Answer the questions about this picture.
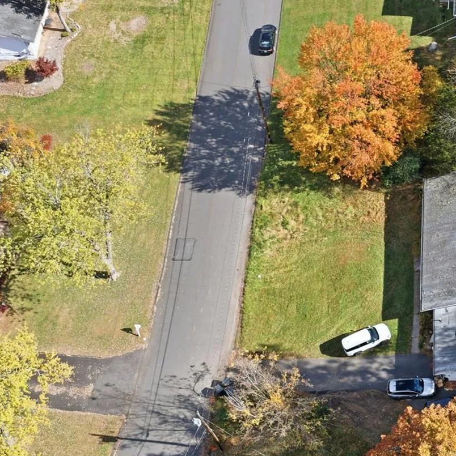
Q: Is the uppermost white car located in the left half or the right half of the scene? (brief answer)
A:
right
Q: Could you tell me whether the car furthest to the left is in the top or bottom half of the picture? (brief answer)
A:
top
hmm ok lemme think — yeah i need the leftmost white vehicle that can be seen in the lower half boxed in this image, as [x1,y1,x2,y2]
[340,326,392,360]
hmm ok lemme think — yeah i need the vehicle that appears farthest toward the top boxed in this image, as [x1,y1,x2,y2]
[256,27,277,58]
